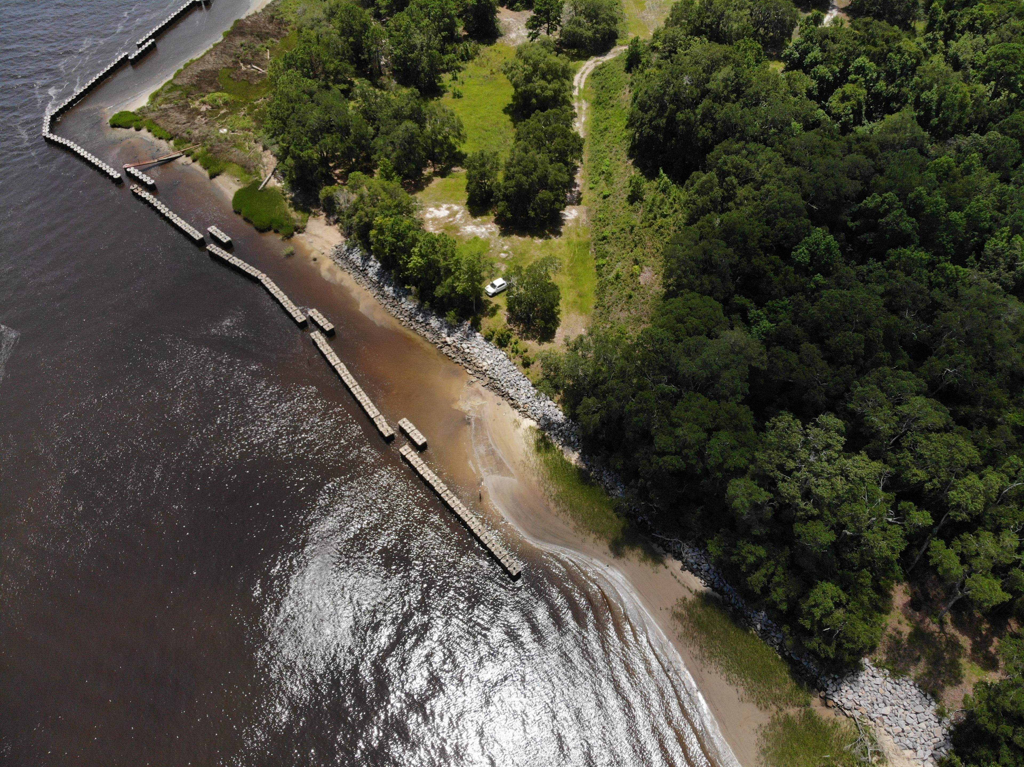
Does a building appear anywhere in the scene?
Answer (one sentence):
No, the scene contains no building.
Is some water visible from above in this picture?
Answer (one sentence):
Yes, there is water in the image.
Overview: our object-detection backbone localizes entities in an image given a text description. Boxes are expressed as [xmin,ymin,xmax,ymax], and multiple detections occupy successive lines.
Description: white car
[487,279,509,295]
